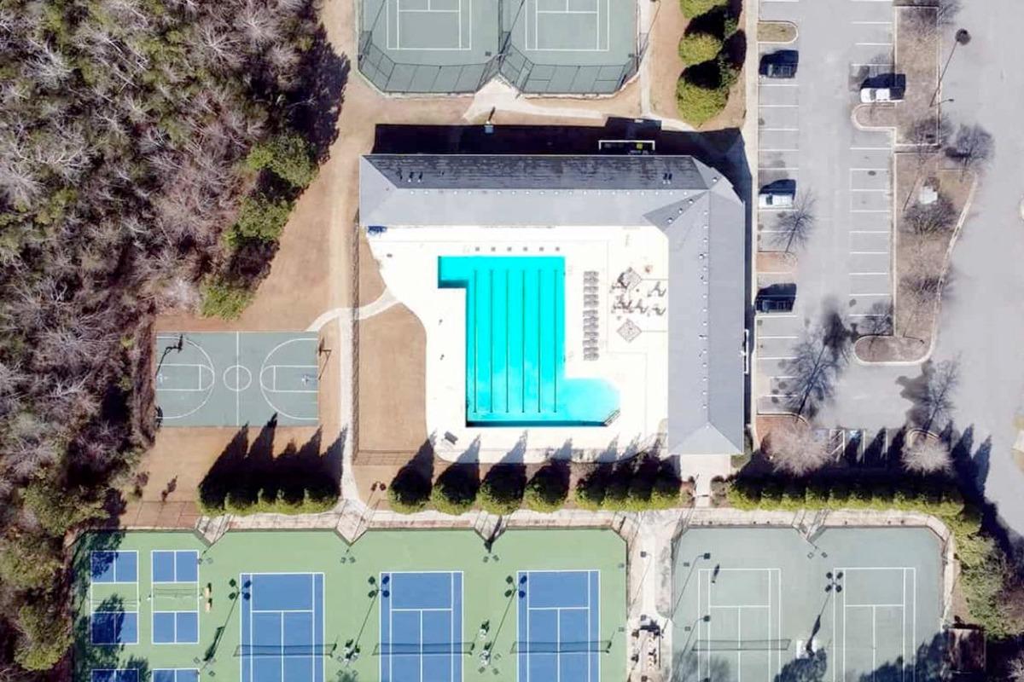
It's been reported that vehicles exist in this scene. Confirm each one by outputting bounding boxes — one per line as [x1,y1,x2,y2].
[758,192,795,210]
[758,60,796,79]
[861,86,906,104]
[756,295,794,313]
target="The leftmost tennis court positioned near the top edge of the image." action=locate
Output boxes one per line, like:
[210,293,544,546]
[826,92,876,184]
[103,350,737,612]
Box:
[387,0,471,49]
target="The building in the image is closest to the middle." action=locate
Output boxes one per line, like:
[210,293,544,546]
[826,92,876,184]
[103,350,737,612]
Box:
[360,154,745,455]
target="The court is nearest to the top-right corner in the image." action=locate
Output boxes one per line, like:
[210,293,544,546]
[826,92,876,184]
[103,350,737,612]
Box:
[525,0,609,50]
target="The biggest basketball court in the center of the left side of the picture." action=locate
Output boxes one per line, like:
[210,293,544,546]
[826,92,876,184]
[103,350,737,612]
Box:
[156,332,319,427]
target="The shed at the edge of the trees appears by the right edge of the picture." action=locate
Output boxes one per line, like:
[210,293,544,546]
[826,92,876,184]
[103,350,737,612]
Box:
[948,630,984,670]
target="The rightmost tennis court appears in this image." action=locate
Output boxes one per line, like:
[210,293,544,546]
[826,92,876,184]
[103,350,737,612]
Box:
[834,568,915,682]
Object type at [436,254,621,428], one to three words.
swimming pool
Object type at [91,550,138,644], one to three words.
sports court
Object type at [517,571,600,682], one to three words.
tennis court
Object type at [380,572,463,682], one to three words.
tennis court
